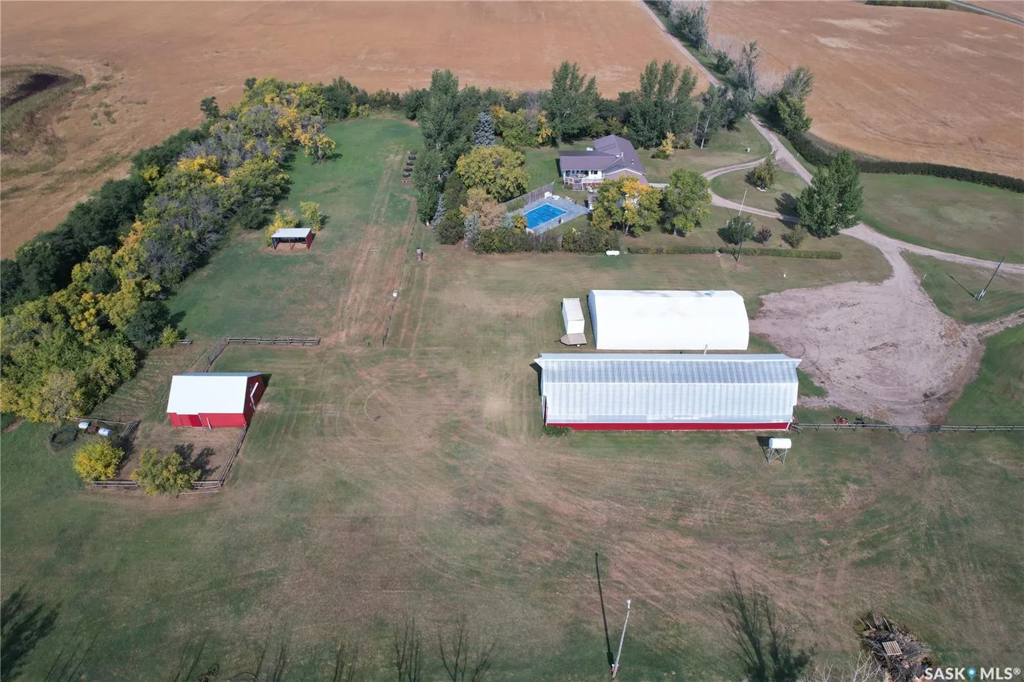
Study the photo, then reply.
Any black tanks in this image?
No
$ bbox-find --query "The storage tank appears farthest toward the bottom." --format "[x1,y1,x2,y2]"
[762,437,795,465]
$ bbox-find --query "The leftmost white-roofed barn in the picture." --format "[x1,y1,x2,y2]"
[163,375,263,429]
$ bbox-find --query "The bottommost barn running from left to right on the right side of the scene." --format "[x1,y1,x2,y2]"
[533,343,802,429]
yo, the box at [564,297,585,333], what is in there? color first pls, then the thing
white trailer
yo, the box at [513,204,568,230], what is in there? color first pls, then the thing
blue swimming pool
